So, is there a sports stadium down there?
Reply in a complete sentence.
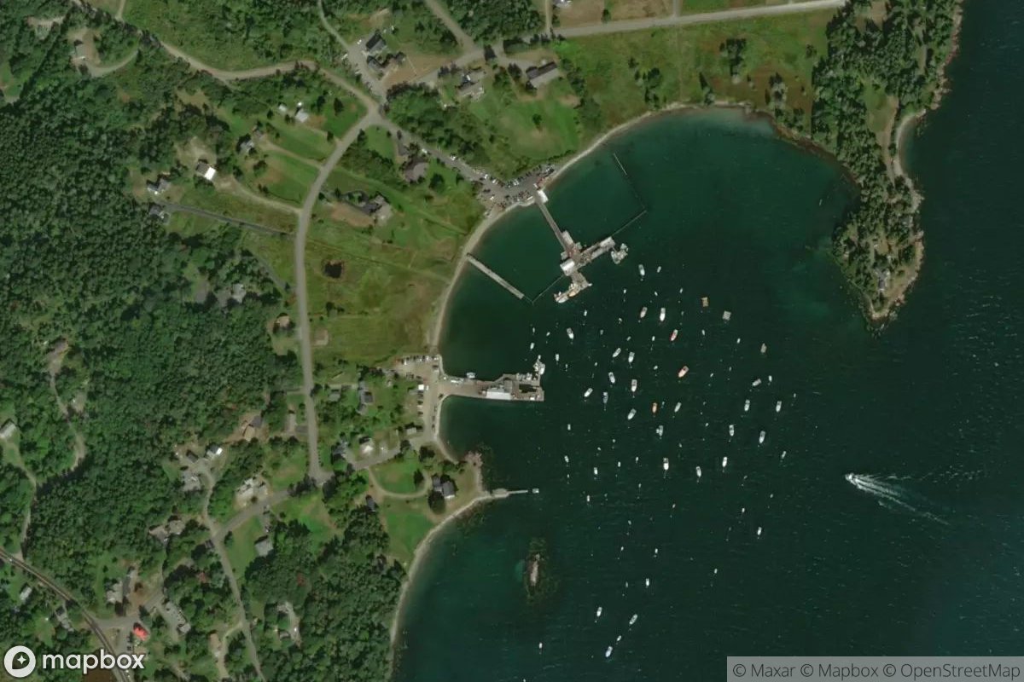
No, there's no sports stadium here.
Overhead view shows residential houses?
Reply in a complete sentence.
Yes, you can see a residential house in this photo.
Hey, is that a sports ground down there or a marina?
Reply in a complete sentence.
The picture captures a marina.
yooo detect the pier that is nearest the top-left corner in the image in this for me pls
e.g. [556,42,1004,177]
[466,254,525,299]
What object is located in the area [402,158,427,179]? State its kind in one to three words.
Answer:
house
